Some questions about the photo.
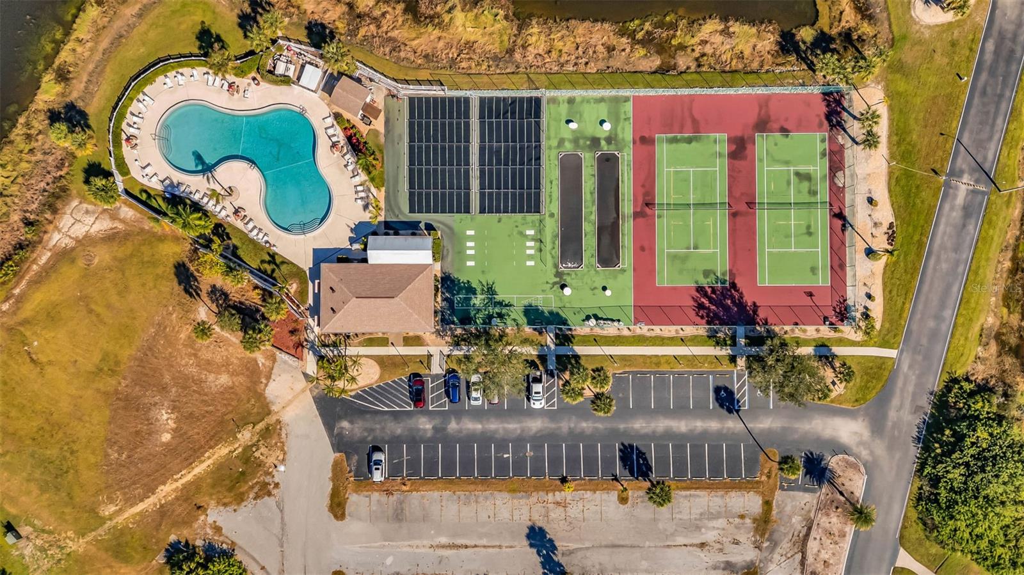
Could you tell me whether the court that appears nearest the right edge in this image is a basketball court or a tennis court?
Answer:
tennis court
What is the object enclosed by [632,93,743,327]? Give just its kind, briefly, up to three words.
tennis court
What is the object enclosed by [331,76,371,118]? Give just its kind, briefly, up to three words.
shed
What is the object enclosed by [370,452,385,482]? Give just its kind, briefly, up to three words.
car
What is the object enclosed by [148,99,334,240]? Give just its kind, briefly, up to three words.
swimming pool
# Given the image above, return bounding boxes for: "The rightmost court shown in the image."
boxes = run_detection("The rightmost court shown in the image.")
[741,93,847,327]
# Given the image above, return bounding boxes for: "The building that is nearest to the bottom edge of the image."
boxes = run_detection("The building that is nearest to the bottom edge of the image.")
[320,264,434,332]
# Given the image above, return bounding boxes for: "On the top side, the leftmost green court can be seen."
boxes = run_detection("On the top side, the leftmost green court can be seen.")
[384,94,633,326]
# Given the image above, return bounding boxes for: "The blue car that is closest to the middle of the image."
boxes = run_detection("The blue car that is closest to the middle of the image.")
[447,373,461,403]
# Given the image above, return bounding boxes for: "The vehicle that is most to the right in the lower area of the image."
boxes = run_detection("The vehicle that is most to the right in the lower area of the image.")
[530,370,545,408]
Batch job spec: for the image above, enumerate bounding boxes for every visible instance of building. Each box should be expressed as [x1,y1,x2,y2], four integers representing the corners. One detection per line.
[367,236,433,263]
[320,264,434,332]
[331,76,371,118]
[299,64,322,91]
